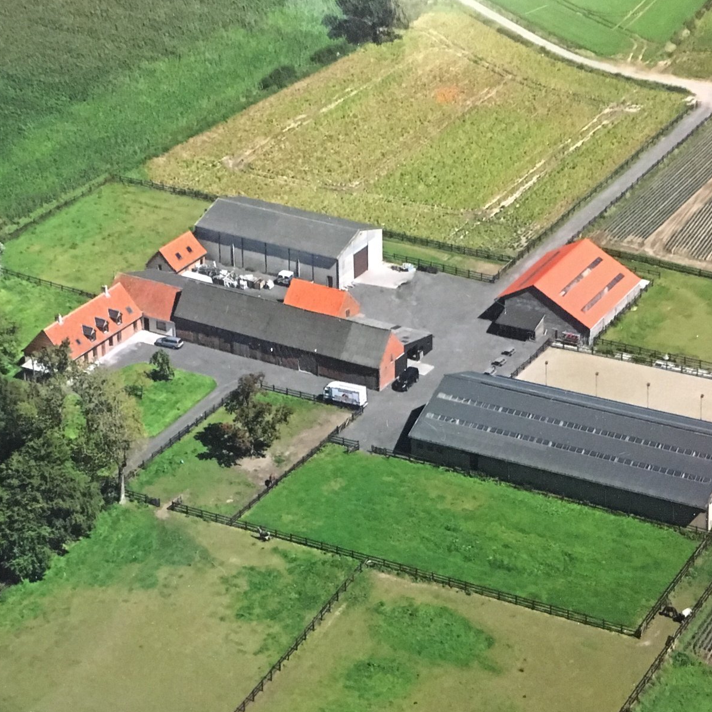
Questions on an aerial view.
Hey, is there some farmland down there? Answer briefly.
Yes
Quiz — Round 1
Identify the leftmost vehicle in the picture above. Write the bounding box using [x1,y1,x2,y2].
[155,333,184,347]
